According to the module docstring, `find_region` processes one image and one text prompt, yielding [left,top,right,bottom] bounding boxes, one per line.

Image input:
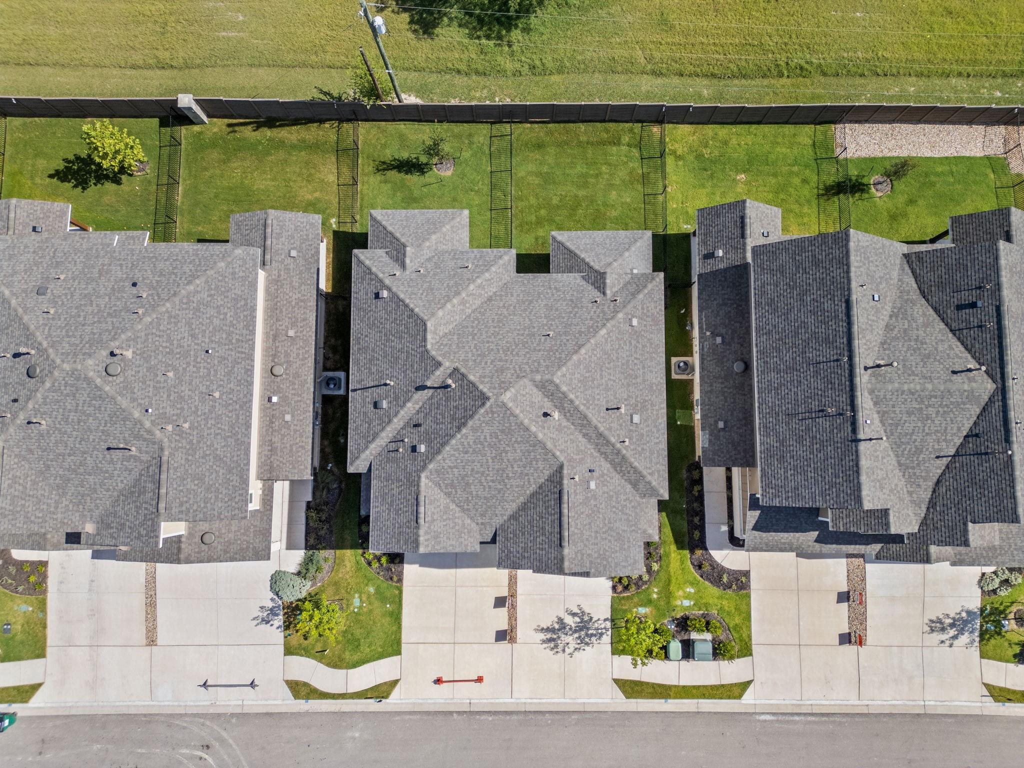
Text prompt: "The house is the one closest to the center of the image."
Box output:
[346,208,670,577]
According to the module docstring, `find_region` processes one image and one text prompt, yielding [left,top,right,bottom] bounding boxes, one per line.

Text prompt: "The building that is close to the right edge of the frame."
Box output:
[693,199,1024,568]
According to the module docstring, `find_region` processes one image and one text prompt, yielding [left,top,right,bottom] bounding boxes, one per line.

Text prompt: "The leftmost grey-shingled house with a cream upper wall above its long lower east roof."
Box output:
[0,198,326,564]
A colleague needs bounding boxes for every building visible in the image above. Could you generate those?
[693,199,1024,568]
[346,208,670,577]
[0,198,326,564]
